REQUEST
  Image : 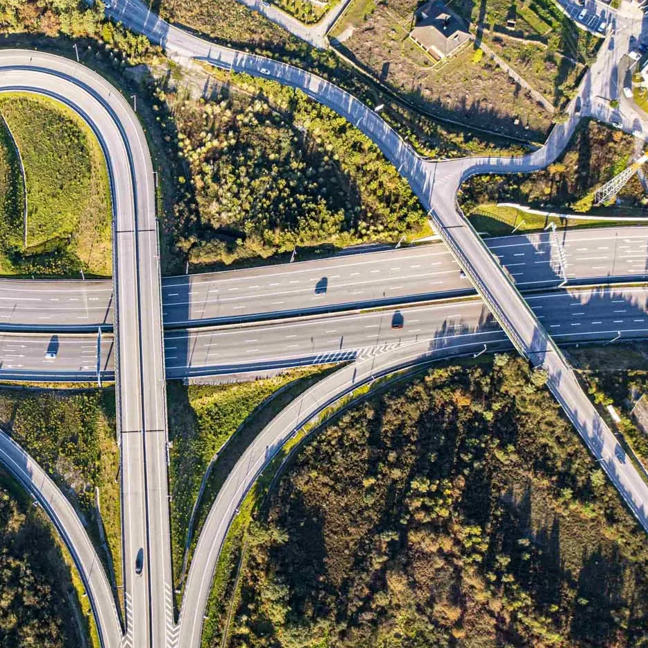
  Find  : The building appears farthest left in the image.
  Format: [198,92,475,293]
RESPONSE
[399,10,479,71]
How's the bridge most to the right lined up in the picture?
at an angle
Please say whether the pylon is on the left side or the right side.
right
